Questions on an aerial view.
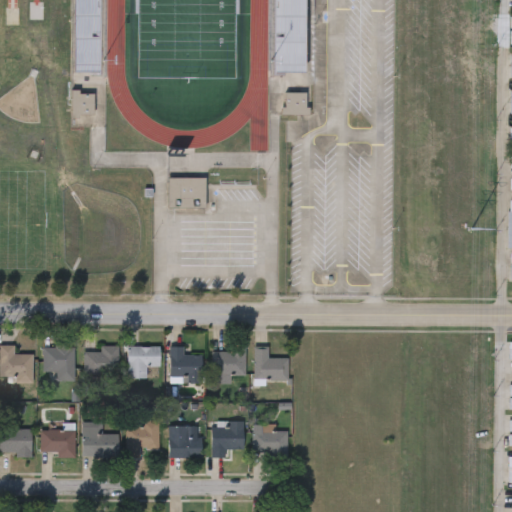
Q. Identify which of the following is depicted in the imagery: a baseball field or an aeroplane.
baseball field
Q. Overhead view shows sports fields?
Yes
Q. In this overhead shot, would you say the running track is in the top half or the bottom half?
top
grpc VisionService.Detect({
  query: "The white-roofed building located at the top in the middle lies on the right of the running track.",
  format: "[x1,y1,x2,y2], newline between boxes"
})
[280,92,310,115]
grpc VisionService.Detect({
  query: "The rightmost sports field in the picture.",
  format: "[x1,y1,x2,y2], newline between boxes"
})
[126,0,250,130]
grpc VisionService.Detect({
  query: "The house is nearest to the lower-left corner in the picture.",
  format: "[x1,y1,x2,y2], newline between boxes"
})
[0,429,33,458]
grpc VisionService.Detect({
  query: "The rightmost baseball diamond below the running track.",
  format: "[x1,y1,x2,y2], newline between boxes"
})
[65,184,140,273]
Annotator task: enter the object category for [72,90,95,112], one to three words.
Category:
building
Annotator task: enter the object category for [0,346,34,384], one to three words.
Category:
house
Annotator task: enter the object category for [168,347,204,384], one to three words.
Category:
house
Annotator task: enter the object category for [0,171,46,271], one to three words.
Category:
sports field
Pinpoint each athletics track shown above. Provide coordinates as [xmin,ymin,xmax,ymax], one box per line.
[107,0,269,152]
